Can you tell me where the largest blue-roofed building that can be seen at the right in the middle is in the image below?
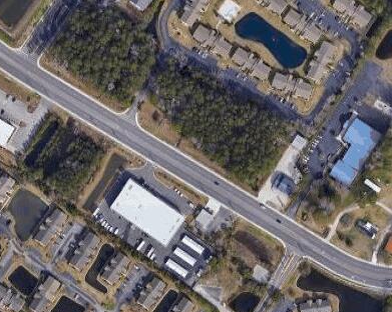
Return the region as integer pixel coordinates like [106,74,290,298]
[330,111,382,186]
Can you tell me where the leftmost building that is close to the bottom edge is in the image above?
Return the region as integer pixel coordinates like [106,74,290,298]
[0,283,27,312]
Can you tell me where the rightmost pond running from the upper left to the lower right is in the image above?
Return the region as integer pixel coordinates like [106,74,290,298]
[235,12,306,68]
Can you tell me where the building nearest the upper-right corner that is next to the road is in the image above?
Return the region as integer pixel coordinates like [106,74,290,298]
[330,0,375,32]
